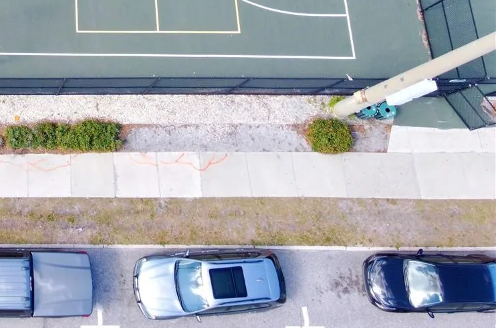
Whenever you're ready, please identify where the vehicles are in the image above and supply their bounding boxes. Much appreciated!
[358,245,496,324]
[134,244,285,326]
[0,251,93,314]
